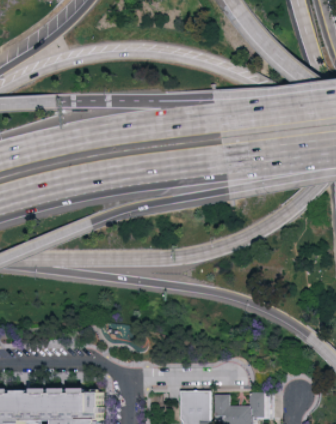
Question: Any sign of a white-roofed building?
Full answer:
Yes, this view includes a white-roofed building.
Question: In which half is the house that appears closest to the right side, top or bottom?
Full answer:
It is in the bottom half that the house that appears closest to the right side appears.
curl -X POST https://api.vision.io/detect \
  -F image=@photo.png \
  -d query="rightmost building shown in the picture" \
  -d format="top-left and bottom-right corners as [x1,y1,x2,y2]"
[215,394,272,424]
